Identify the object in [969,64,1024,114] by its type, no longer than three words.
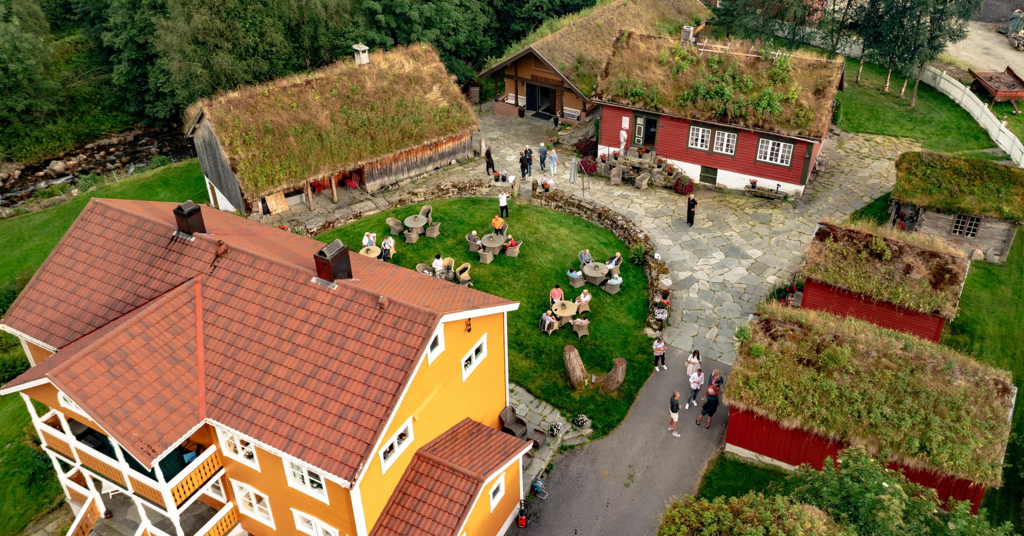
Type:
trailer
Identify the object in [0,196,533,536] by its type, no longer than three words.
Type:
house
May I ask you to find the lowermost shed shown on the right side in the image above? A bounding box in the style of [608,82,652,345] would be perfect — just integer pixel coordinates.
[723,309,1021,516]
